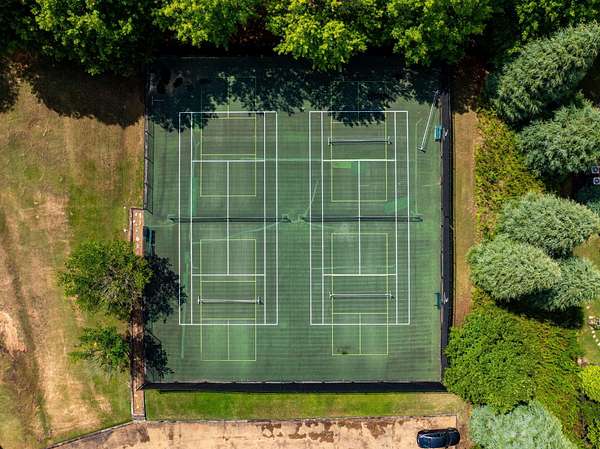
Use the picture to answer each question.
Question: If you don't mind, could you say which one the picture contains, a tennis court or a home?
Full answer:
Visible in the photo is a tennis court.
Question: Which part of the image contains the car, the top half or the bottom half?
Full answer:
The car sits in the bottom half of the picture.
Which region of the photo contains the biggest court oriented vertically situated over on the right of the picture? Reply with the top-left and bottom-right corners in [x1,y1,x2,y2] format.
[309,111,412,325]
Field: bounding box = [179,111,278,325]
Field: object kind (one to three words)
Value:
tennis court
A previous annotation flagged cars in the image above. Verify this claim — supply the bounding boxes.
[417,427,459,449]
